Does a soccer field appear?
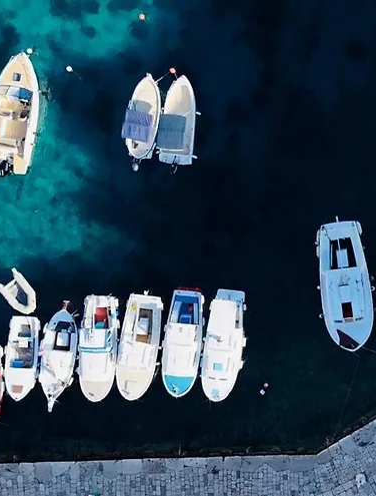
No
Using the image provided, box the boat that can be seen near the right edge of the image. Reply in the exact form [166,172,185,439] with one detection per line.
[314,215,376,352]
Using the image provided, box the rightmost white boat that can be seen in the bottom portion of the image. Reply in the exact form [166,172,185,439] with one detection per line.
[197,288,250,403]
